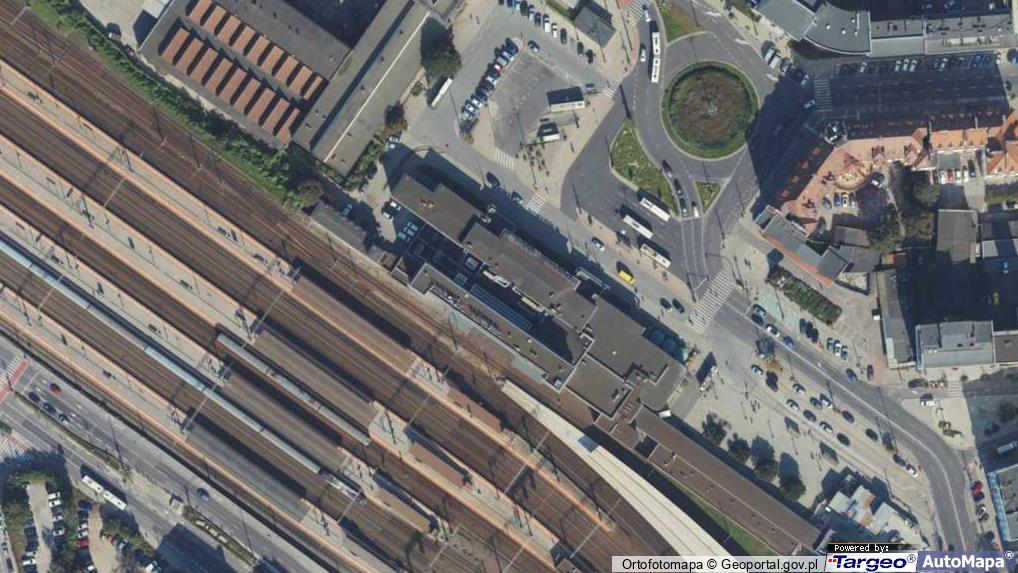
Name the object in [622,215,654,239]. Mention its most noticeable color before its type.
white bus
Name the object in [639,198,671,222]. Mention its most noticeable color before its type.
white bus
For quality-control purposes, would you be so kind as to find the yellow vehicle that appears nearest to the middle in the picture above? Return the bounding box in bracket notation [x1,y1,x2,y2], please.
[617,270,635,285]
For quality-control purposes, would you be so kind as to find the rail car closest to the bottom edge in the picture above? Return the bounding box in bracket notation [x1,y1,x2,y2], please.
[320,472,365,505]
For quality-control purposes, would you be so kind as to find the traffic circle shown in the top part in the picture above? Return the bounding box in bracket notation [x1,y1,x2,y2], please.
[662,59,760,157]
